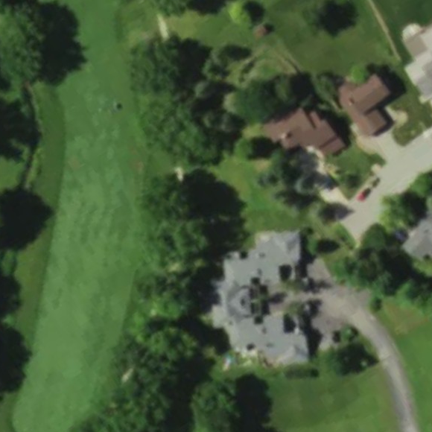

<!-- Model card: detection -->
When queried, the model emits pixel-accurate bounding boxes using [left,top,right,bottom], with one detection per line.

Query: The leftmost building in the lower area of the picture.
[218,231,310,364]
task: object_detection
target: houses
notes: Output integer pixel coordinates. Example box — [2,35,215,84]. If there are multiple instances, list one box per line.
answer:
[408,212,432,261]
[404,23,432,99]
[265,107,346,157]
[218,231,310,364]
[339,73,391,136]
